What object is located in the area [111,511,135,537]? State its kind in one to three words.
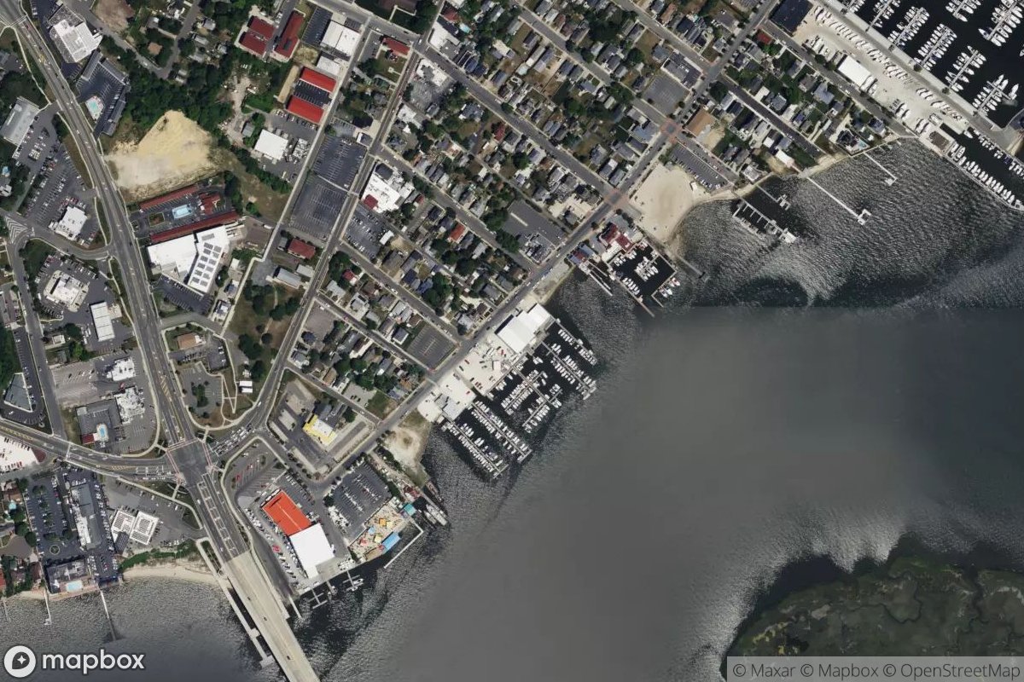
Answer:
house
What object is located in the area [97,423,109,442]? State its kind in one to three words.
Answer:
swimming pool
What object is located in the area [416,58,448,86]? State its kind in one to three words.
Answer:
building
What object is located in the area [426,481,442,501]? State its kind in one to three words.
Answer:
boat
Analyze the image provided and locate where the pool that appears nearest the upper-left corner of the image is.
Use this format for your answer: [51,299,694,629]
[85,95,104,117]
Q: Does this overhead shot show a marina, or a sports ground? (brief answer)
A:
marina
